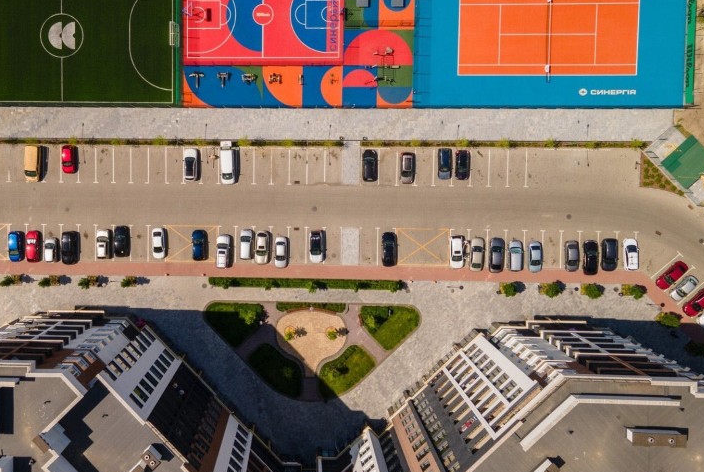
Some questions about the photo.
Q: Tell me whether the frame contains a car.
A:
Yes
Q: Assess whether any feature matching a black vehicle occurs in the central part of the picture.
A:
Yes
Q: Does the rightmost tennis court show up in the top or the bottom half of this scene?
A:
top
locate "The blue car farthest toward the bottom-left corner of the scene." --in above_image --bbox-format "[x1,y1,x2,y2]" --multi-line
[7,232,24,261]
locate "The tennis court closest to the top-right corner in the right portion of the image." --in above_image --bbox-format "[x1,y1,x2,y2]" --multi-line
[415,0,687,107]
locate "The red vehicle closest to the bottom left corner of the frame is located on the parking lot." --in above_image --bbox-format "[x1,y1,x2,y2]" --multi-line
[24,231,42,261]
